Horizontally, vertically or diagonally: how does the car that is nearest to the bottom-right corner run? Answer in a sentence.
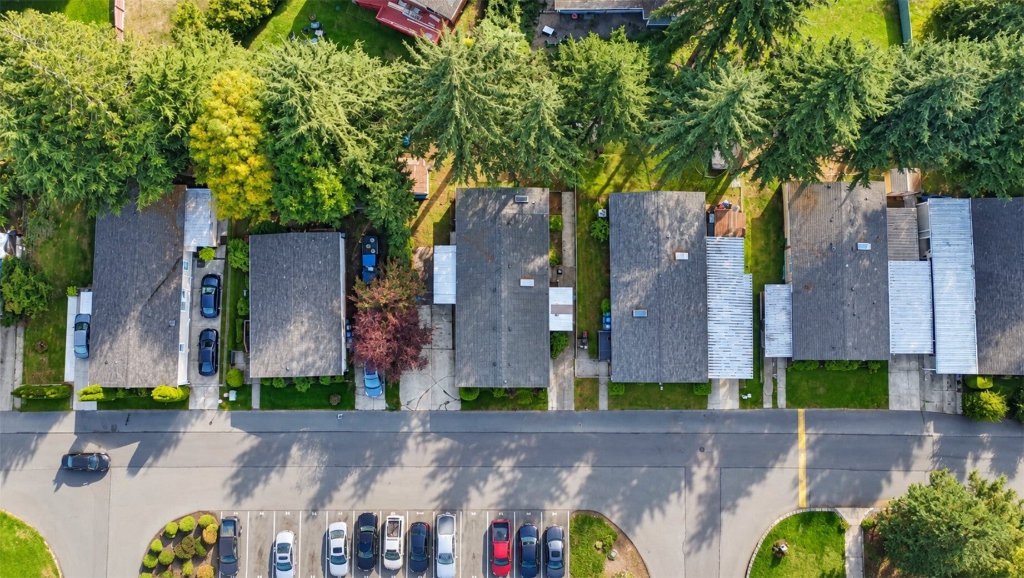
The car that is nearest to the bottom-right corner is laid out vertically.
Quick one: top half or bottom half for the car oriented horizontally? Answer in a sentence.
Seen from above, the car oriented horizontally lies in the bottom half of the view.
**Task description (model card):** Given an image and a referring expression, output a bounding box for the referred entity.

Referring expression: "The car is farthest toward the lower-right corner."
[543,525,566,576]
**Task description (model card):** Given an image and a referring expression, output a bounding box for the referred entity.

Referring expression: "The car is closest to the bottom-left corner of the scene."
[62,451,114,473]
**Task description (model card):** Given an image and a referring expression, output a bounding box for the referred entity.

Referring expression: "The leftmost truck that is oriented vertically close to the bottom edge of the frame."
[216,515,243,574]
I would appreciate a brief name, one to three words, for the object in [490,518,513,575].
truck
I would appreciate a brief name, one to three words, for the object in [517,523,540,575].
car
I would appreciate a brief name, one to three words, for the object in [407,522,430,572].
car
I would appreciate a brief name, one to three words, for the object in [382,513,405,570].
truck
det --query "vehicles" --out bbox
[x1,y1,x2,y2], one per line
[517,523,540,575]
[216,515,243,574]
[196,328,222,376]
[355,513,379,567]
[325,522,349,573]
[490,518,513,575]
[272,529,296,578]
[198,274,224,318]
[407,522,430,572]
[69,312,90,358]
[62,451,114,473]
[362,361,384,401]
[433,513,457,578]
[543,525,566,576]
[358,232,381,286]
[382,513,405,570]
